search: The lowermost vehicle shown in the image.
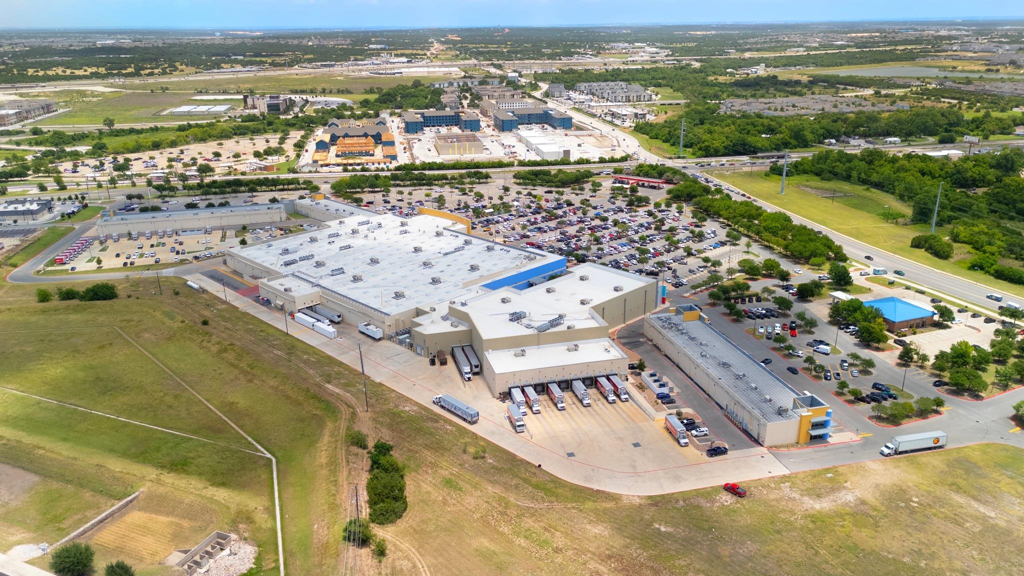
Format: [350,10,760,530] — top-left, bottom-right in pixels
[723,483,747,496]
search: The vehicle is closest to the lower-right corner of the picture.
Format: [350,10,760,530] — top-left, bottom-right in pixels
[881,432,954,457]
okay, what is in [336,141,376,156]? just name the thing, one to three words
house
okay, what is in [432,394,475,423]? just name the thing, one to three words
truck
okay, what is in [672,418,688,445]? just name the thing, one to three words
vehicle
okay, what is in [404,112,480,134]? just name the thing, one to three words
building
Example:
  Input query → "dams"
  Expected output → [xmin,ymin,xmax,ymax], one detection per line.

[166,530,227,576]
